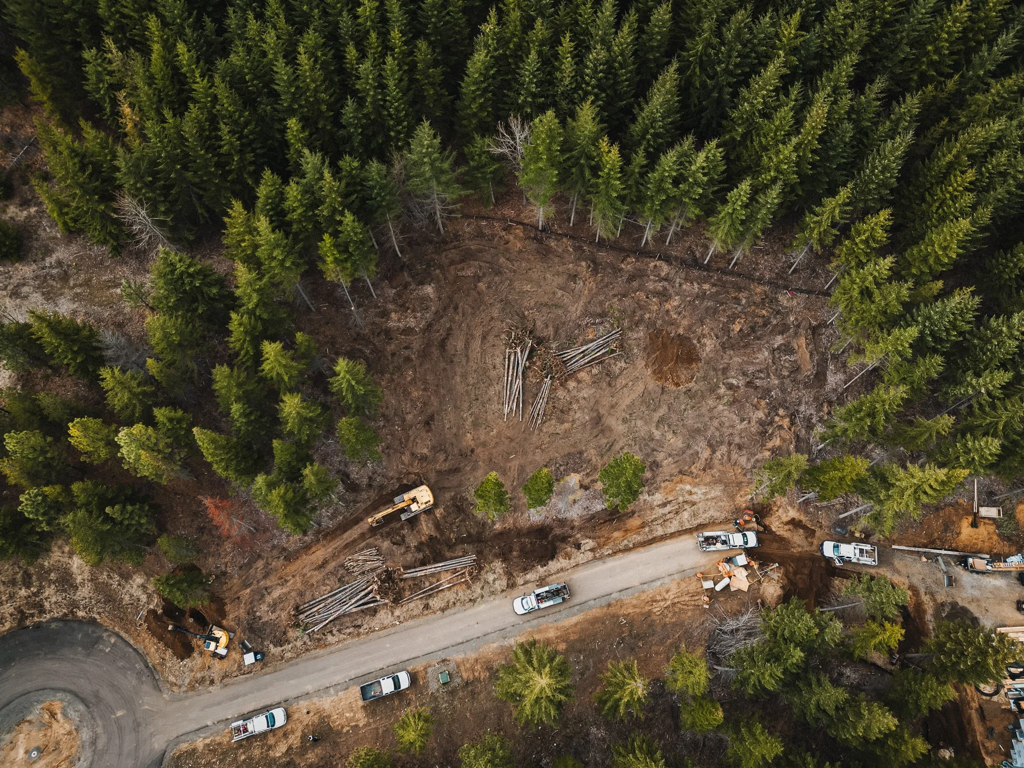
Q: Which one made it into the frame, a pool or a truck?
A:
truck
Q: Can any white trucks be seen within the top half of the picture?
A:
No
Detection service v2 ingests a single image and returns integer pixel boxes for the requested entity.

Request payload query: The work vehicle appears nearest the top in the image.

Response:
[365,485,433,526]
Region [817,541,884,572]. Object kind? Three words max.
truck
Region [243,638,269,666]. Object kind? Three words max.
work vehicle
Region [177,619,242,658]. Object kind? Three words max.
work vehicle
